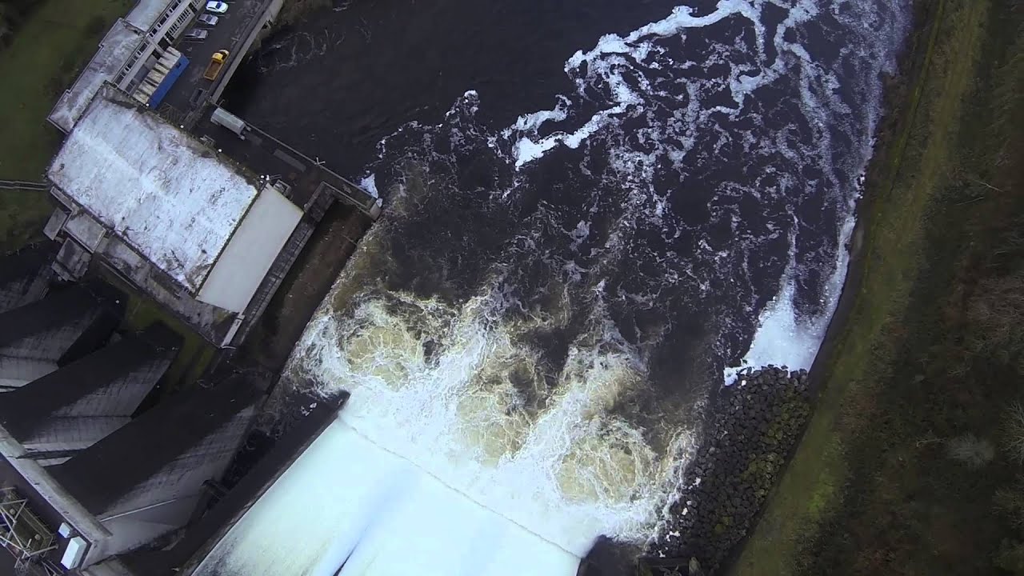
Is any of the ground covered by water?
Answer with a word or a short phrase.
Yes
